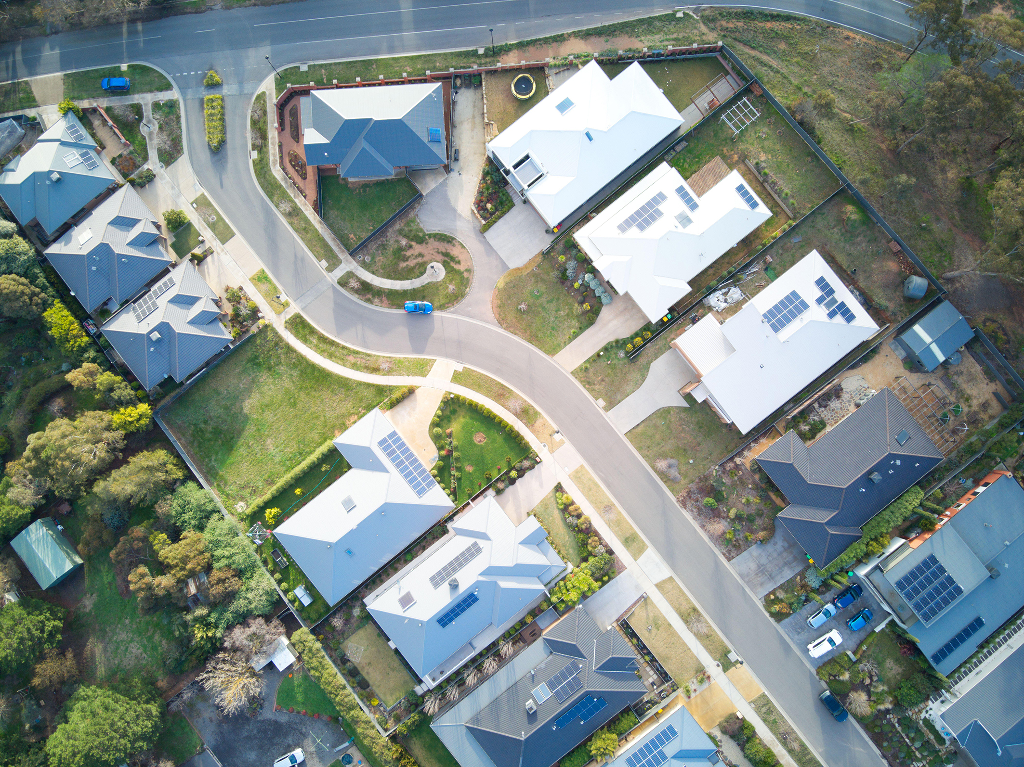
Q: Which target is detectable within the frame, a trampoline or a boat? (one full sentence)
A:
I can see a trampoline in this picture.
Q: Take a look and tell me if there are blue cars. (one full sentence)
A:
Yes, a blue car is visible in the scene.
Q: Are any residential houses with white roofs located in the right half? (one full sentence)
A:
Yes, there is a residential house with a white roof in the right half.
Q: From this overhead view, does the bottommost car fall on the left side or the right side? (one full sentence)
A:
The bottommost car is on the left side of the image.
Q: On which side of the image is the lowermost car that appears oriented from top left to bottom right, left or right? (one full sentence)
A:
The lowermost car that appears oriented from top left to bottom right appears in the right half of the scene.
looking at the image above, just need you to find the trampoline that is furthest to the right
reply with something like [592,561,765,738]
[512,72,536,97]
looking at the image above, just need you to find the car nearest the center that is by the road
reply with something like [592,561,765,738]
[404,300,433,314]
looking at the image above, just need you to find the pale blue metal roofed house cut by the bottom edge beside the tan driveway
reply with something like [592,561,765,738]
[598,703,719,767]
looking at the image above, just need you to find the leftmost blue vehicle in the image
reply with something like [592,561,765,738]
[102,77,131,92]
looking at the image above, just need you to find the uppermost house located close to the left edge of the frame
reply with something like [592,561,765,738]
[0,110,122,235]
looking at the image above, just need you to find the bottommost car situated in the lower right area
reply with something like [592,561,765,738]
[817,688,850,725]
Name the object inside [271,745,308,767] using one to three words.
car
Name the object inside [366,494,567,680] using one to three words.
house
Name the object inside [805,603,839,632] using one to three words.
car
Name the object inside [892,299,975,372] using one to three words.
shed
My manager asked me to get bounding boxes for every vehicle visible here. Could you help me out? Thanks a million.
[807,629,845,661]
[817,688,850,725]
[805,603,839,632]
[844,606,875,634]
[271,745,308,767]
[404,300,433,314]
[102,77,131,92]
[832,583,866,612]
